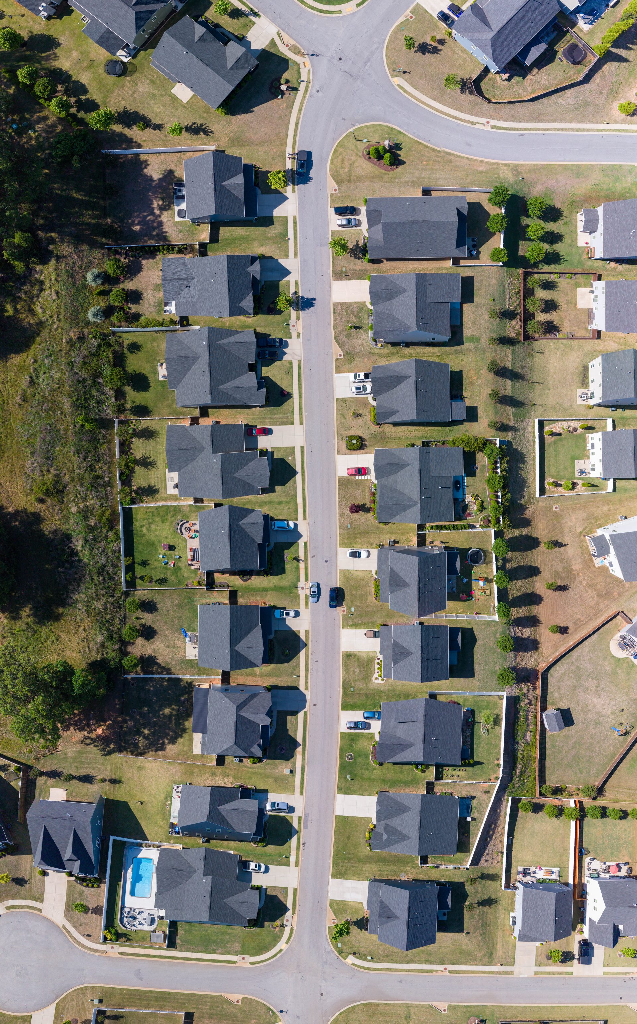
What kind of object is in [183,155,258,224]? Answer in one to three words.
house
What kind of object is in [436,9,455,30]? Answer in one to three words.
car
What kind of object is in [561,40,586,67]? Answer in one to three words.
trampoline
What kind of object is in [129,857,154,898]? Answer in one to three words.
swimming pool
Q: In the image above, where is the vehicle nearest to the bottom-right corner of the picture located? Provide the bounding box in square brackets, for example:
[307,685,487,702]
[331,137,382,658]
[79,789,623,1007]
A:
[579,938,591,965]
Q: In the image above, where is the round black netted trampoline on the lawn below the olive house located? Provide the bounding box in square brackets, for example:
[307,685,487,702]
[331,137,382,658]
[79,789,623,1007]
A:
[103,57,124,79]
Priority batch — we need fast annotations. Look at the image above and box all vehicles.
[296,151,307,178]
[257,338,283,348]
[347,720,367,729]
[346,467,367,475]
[436,9,455,30]
[247,427,268,437]
[347,549,368,559]
[361,711,379,720]
[274,609,295,619]
[266,802,289,812]
[579,938,591,965]
[258,350,279,360]
[309,582,319,603]
[362,629,379,639]
[328,587,339,608]
[351,384,372,395]
[349,372,372,383]
[447,2,463,20]
[337,217,358,228]
[334,205,356,216]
